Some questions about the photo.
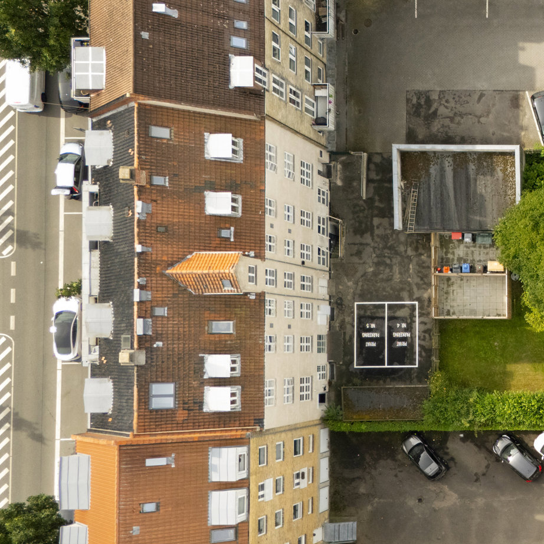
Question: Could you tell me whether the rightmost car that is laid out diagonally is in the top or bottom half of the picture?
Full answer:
Seen from above, the rightmost car that is laid out diagonally lies in the bottom half of the view.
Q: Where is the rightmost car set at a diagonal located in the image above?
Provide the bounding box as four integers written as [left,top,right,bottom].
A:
[493,432,543,484]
